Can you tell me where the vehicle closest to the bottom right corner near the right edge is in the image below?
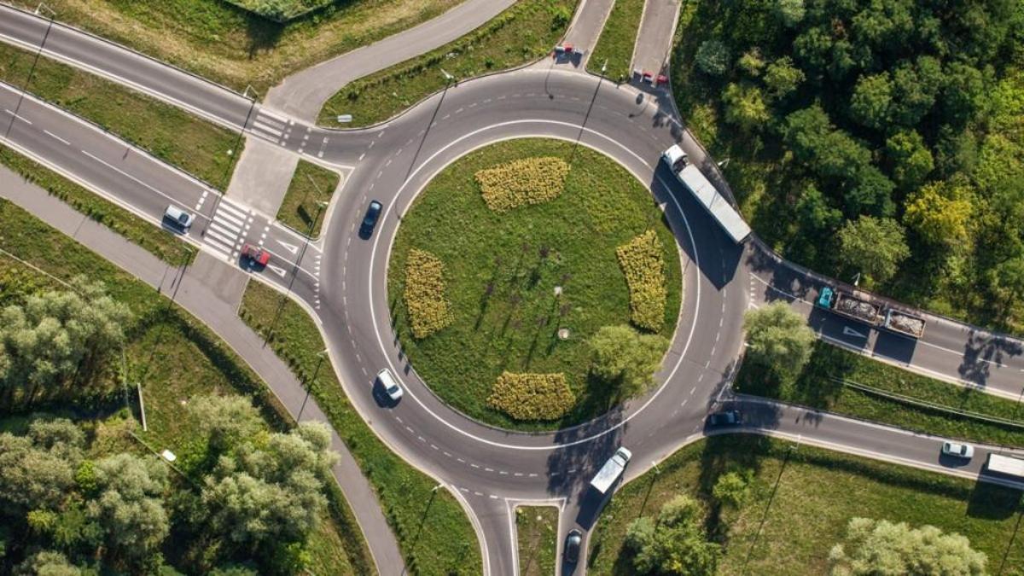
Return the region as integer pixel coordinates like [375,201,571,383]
[982,453,1024,477]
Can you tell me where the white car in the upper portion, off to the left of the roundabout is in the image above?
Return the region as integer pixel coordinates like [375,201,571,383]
[163,205,193,227]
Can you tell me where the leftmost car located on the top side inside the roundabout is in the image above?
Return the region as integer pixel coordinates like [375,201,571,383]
[361,200,380,233]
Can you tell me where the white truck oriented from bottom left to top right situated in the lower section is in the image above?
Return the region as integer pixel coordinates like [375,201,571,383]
[591,447,631,493]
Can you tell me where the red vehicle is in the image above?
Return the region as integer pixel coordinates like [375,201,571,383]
[241,245,271,265]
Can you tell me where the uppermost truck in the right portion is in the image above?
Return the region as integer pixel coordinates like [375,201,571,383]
[665,146,752,244]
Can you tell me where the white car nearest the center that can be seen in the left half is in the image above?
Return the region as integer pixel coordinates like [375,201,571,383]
[377,369,402,399]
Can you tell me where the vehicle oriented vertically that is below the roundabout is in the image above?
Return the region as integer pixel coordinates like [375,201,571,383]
[565,529,581,562]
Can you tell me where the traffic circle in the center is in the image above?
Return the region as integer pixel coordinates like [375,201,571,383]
[323,63,746,498]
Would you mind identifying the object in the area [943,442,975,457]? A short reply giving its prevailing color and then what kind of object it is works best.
white car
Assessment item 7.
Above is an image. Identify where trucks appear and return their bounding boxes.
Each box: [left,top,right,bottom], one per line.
[982,453,1024,477]
[665,146,752,244]
[591,447,631,493]
[819,286,926,337]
